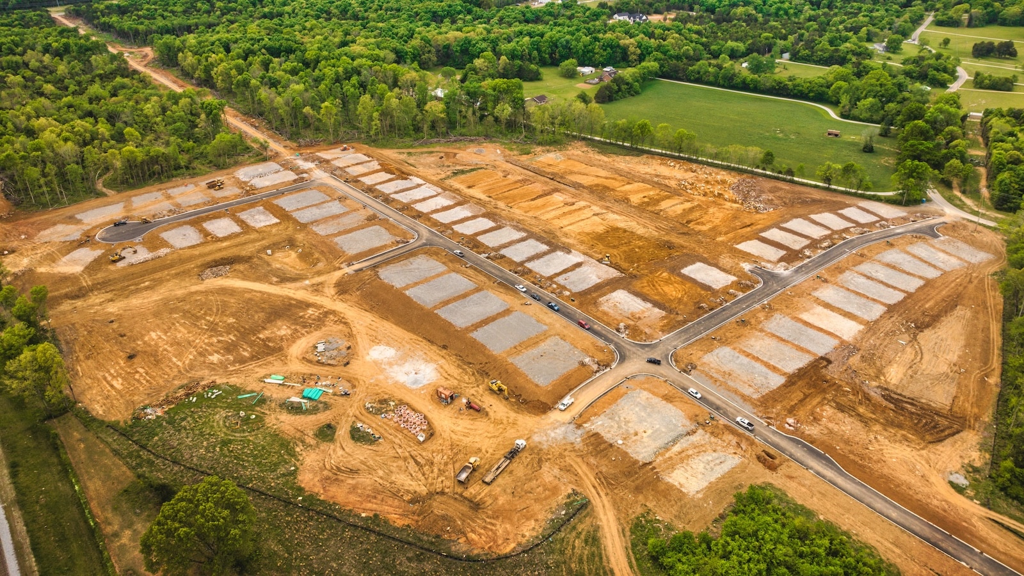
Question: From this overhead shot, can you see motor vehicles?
Yes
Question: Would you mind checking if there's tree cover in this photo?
Yes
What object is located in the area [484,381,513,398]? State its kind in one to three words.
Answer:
work vehicle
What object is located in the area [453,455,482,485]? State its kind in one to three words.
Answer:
truck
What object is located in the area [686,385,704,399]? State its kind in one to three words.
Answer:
car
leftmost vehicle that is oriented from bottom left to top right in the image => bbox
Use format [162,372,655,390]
[104,240,140,263]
